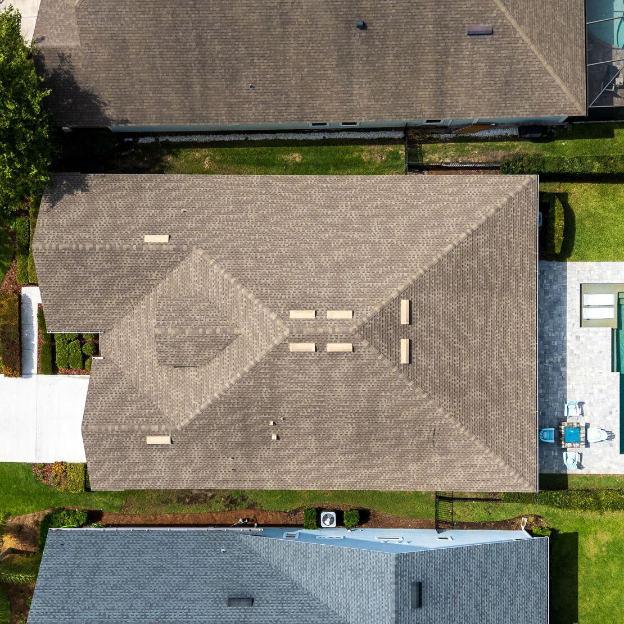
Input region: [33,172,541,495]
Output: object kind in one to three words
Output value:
house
